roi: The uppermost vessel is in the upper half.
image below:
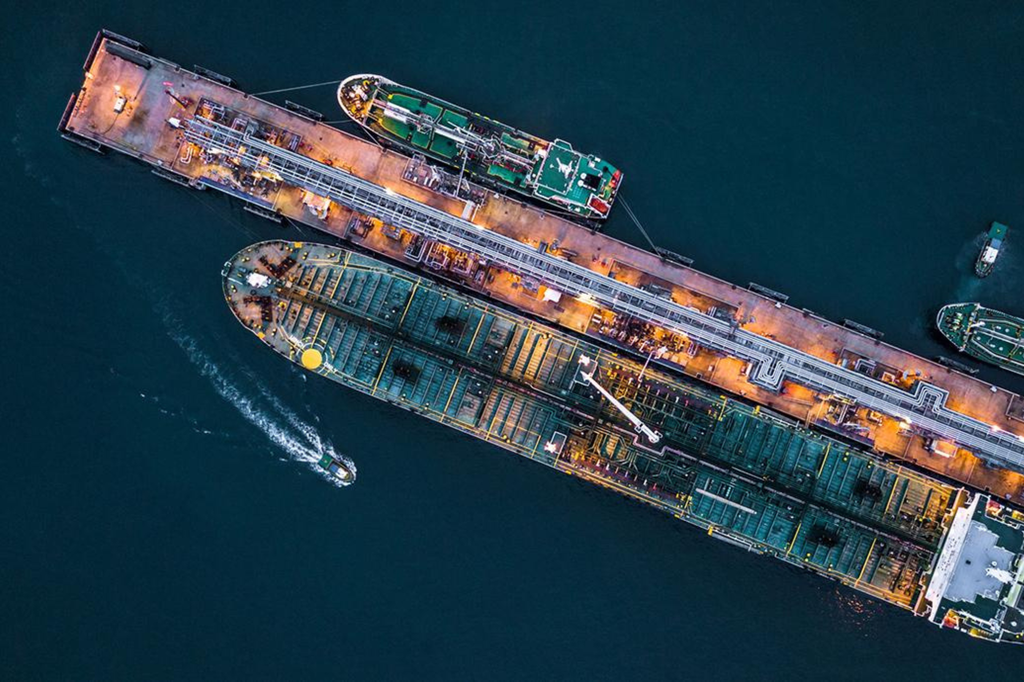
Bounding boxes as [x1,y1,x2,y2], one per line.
[336,74,624,222]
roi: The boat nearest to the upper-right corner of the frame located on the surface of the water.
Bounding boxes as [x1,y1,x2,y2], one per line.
[976,221,1011,279]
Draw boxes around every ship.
[221,236,1024,646]
[336,74,624,222]
[934,302,1024,377]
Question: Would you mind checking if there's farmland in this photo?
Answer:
No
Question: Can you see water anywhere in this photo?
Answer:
Yes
